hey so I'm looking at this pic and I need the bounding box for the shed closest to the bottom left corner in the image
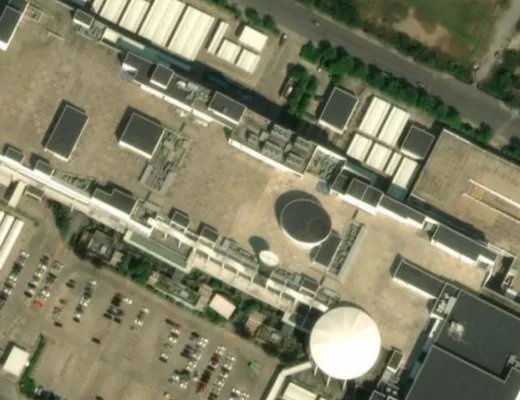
[2,346,30,378]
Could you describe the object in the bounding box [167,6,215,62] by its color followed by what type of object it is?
white tent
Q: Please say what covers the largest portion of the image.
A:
buildings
